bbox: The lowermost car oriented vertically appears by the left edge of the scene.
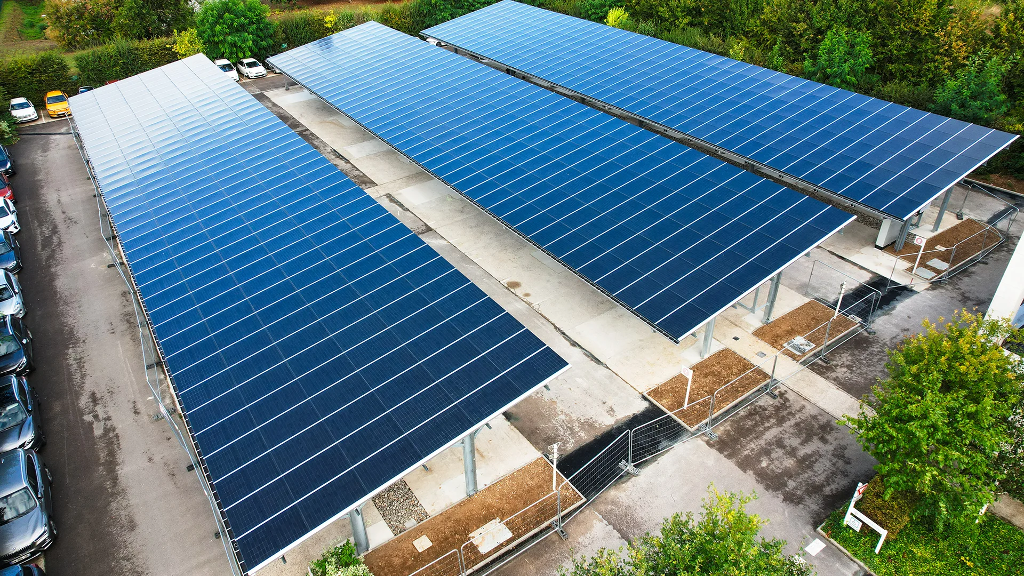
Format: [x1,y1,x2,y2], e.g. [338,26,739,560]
[0,446,57,572]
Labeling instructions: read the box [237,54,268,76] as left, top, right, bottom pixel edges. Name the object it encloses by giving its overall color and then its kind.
white car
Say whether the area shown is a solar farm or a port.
solar farm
